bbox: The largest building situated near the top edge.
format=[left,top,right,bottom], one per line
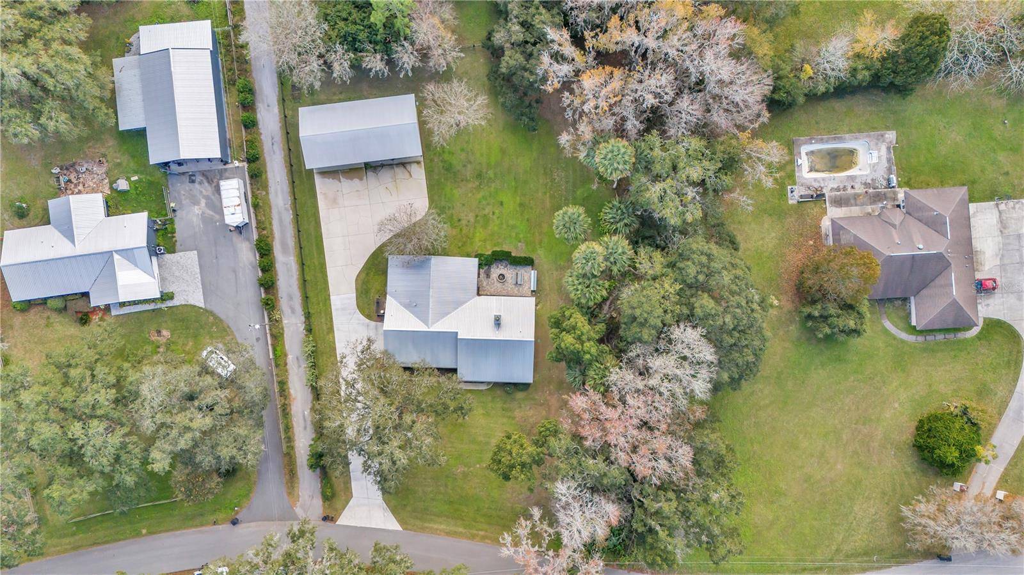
[113,20,231,165]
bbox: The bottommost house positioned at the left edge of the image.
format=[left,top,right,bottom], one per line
[0,193,167,306]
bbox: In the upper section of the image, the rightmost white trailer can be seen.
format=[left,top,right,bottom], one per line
[219,178,250,238]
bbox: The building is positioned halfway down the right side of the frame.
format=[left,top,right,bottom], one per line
[826,185,978,331]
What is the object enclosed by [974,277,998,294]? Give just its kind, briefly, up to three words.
car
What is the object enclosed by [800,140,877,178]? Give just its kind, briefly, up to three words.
swimming pool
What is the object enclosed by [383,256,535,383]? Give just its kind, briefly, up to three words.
house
